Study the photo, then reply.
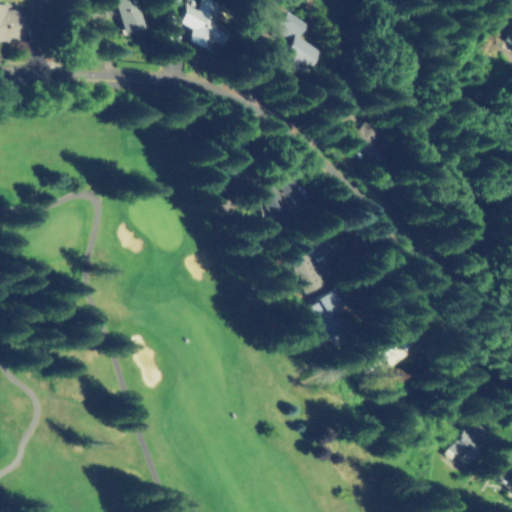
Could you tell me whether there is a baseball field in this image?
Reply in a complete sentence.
No, the picture doesn't show any baseball field.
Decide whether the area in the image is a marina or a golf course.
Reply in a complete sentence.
This image shows a golf course.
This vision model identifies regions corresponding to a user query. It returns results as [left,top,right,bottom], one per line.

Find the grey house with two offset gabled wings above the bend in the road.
[281,10,320,67]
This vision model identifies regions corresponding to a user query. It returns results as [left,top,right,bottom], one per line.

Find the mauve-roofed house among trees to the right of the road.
[356,118,379,143]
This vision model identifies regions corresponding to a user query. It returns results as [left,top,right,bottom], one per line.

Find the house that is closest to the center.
[262,183,293,212]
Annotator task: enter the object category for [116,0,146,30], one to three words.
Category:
house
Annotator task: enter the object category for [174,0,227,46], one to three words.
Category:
house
